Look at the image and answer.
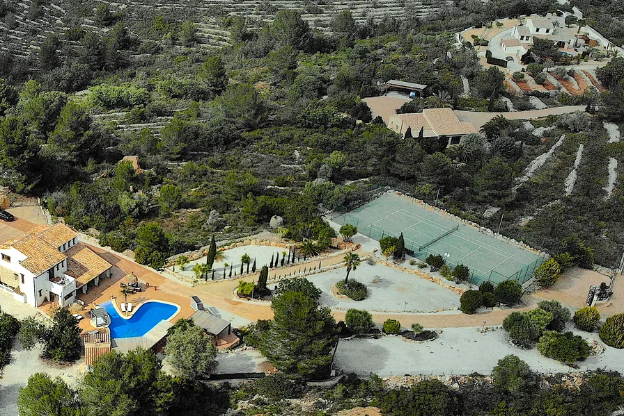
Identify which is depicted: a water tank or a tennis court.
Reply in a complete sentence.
There is a tennis court in the scene.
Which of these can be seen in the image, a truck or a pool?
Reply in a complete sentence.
There is a pool in the scene.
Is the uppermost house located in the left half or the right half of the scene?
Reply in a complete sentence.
It is on the right.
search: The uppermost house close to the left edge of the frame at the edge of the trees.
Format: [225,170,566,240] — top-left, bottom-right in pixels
[0,218,114,307]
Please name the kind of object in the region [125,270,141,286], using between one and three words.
umbrella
